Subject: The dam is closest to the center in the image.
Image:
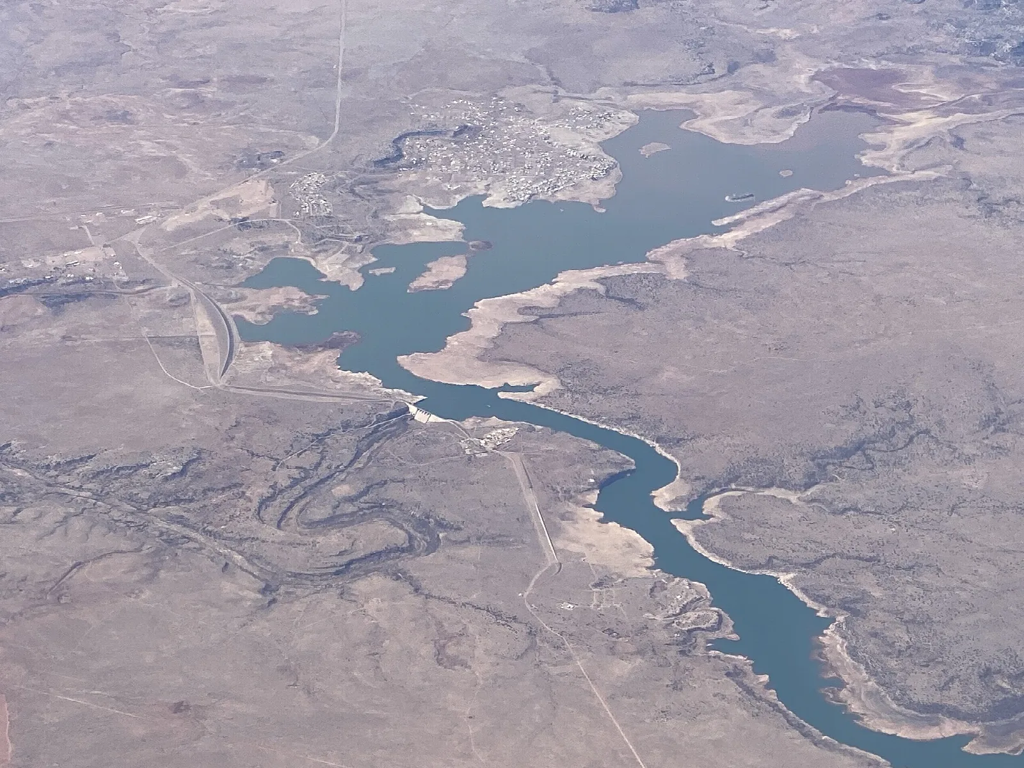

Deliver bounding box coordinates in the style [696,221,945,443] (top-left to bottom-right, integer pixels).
[403,400,452,425]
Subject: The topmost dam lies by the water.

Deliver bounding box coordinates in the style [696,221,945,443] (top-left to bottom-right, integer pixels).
[174,279,236,378]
